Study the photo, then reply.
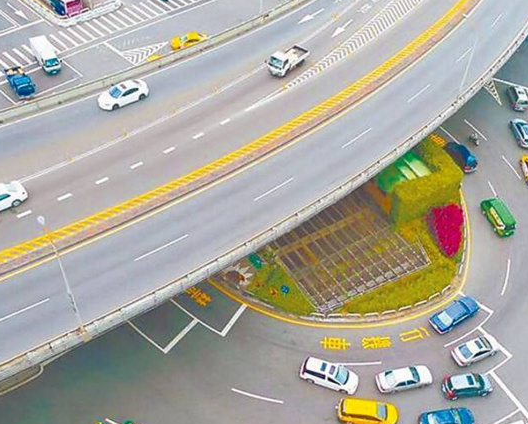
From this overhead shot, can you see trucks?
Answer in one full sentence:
Yes, the frame does contain a truck.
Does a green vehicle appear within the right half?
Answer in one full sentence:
Yes, within the right half there is a green vehicle.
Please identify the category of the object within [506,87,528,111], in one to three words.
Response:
car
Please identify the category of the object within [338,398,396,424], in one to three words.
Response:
vehicle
